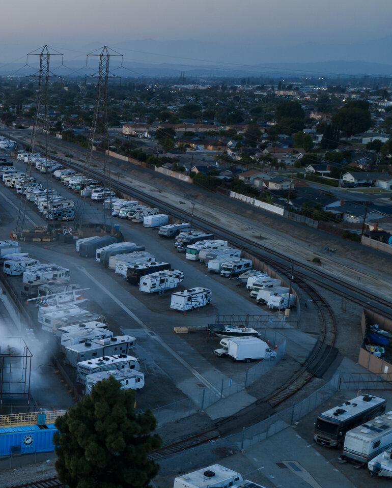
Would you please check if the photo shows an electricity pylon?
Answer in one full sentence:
Yes, the photo shows an electricity pylon.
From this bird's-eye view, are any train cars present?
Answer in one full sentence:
No, no train car can be seen from above.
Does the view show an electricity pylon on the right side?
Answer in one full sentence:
No, the scene shows no electricity pylon on the right side.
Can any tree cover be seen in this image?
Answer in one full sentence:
Yes, tree cover can be seen from above here.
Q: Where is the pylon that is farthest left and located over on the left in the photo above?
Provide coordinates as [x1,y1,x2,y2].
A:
[12,45,66,235]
